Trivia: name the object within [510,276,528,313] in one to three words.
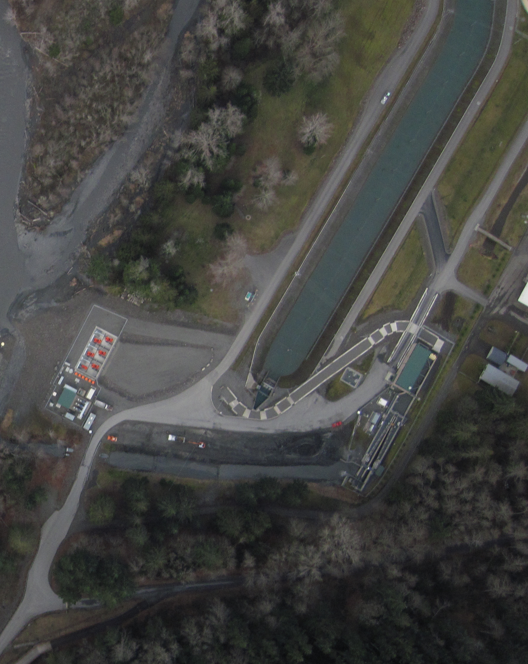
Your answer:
building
